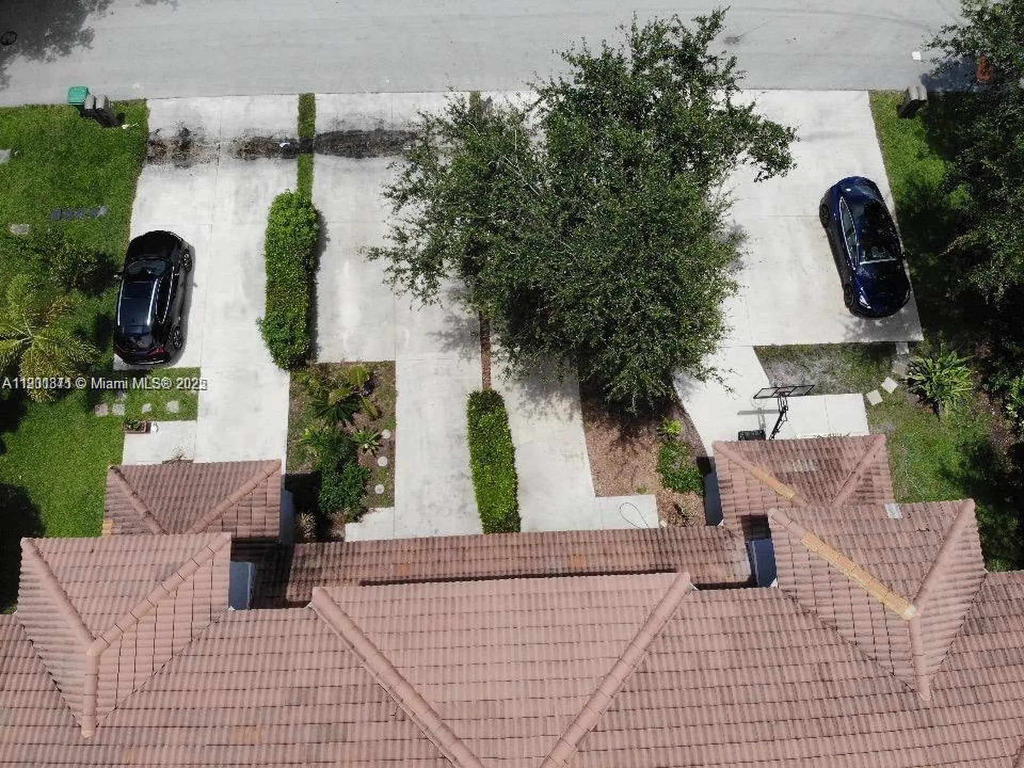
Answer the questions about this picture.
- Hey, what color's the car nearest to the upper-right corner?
black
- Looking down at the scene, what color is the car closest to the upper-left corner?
black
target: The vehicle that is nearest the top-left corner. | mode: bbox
[108,231,193,367]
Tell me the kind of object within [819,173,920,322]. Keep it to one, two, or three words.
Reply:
car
